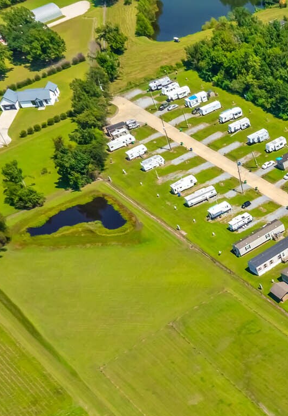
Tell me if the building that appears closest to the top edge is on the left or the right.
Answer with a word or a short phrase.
left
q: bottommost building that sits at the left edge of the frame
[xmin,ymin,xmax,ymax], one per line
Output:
[1,81,66,114]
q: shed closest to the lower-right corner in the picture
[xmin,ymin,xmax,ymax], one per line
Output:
[268,282,288,306]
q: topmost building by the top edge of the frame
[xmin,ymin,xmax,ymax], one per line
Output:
[27,1,65,22]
